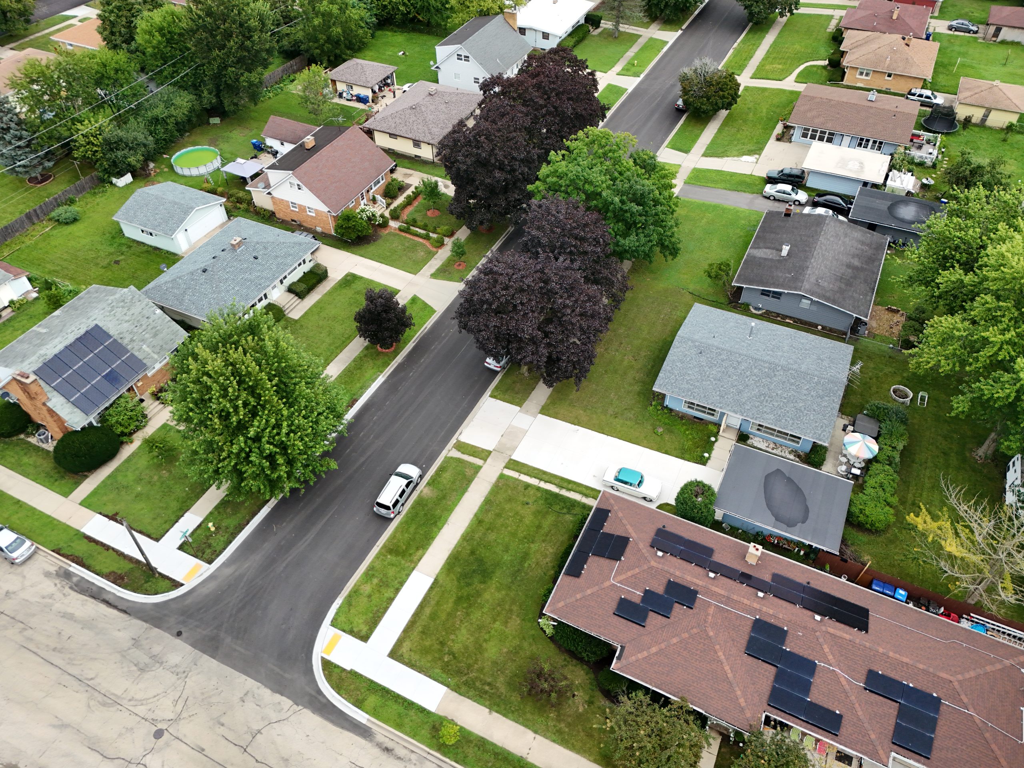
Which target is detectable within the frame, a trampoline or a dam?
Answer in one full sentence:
Looking from above, you can make out a trampoline.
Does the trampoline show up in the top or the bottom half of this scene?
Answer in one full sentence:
The top half of the photo is where the trampoline is.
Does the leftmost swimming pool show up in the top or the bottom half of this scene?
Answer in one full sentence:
The leftmost swimming pool is in the top half of the image.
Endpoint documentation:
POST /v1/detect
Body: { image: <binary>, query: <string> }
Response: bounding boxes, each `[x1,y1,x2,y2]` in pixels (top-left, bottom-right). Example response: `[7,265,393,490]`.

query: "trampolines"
[920,105,960,138]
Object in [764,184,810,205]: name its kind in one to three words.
car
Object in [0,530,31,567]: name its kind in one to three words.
car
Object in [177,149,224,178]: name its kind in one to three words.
swimming pool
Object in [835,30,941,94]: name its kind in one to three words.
house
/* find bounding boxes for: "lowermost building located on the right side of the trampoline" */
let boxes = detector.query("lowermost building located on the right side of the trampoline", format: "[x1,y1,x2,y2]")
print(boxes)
[955,77,1024,132]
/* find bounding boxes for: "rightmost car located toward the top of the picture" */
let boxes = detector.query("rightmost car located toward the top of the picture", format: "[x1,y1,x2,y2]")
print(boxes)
[947,19,982,33]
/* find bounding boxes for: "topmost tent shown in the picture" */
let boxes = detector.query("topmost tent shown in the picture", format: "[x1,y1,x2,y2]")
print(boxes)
[222,157,268,191]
